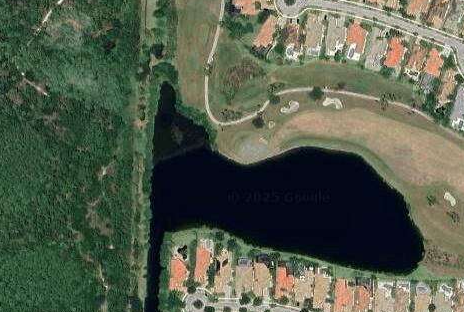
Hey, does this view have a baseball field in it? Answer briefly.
No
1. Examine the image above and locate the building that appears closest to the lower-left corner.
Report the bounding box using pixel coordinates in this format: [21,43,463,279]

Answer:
[166,259,187,290]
